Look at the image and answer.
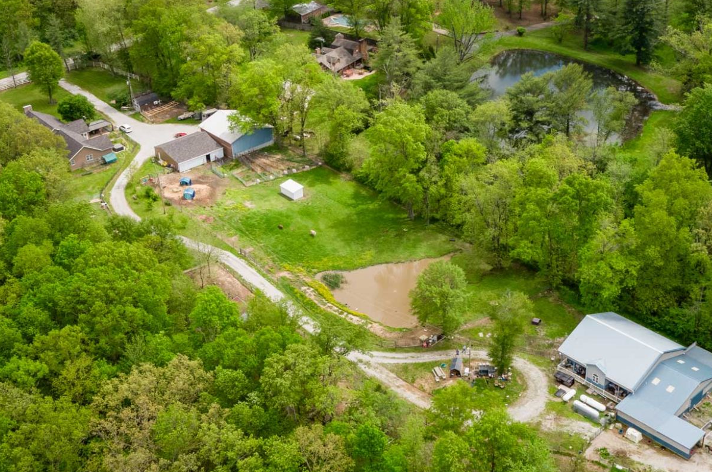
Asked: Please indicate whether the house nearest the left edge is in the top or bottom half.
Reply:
top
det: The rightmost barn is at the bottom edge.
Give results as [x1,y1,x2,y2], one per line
[555,311,712,459]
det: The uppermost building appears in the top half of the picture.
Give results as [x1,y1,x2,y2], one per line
[287,3,337,21]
